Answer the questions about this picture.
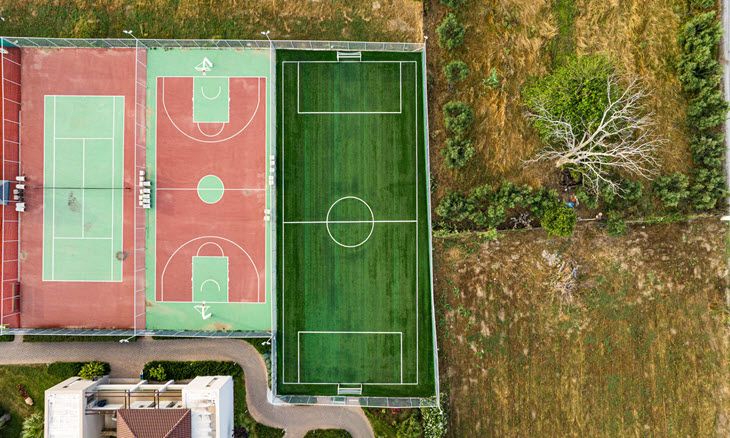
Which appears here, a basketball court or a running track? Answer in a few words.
basketball court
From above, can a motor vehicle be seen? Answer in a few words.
No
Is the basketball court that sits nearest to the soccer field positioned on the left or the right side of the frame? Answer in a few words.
left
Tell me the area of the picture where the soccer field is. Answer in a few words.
center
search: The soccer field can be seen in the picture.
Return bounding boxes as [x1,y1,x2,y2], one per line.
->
[277,49,435,397]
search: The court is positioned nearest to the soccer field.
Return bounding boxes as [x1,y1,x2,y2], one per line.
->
[146,47,271,332]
